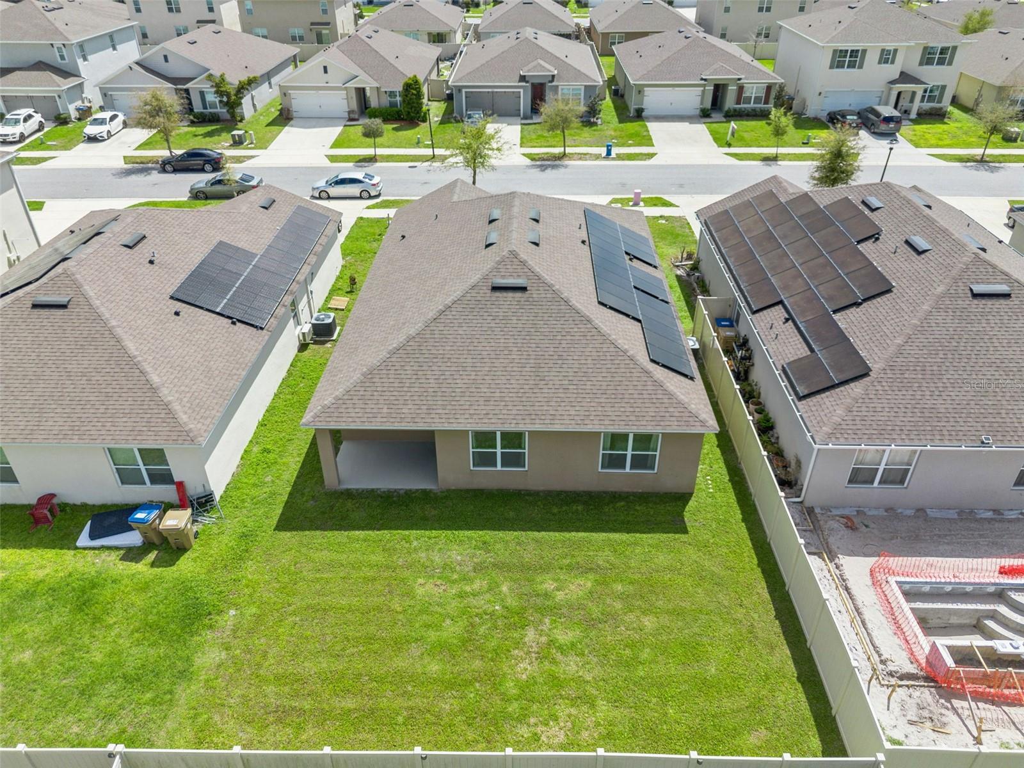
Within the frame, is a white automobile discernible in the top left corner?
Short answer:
Yes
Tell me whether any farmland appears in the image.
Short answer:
No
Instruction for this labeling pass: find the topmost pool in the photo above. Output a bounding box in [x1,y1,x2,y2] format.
[880,571,1024,640]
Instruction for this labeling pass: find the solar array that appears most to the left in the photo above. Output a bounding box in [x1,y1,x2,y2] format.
[0,213,121,299]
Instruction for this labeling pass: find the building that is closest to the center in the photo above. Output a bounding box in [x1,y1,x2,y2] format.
[300,179,720,493]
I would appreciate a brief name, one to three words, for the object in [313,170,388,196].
car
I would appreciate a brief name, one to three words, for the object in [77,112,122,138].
car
